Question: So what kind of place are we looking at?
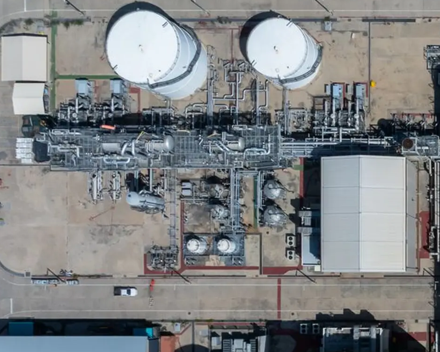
industrial area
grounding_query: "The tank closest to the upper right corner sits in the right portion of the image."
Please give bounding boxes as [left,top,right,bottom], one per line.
[246,16,324,94]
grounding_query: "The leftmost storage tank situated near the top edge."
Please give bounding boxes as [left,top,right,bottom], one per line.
[105,11,207,102]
